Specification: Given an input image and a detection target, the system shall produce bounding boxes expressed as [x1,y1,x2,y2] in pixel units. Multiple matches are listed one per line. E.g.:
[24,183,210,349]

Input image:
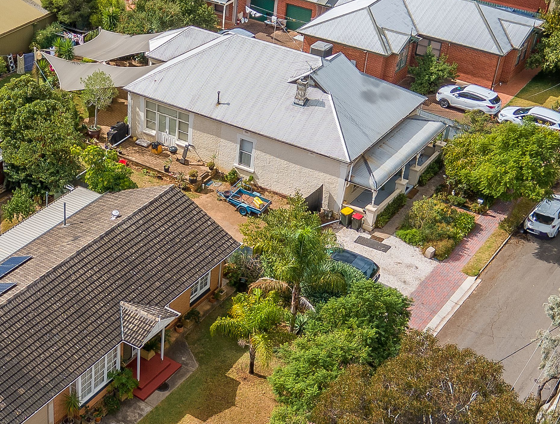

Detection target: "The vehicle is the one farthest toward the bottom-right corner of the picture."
[522,201,560,243]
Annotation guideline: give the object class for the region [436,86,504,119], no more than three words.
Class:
car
